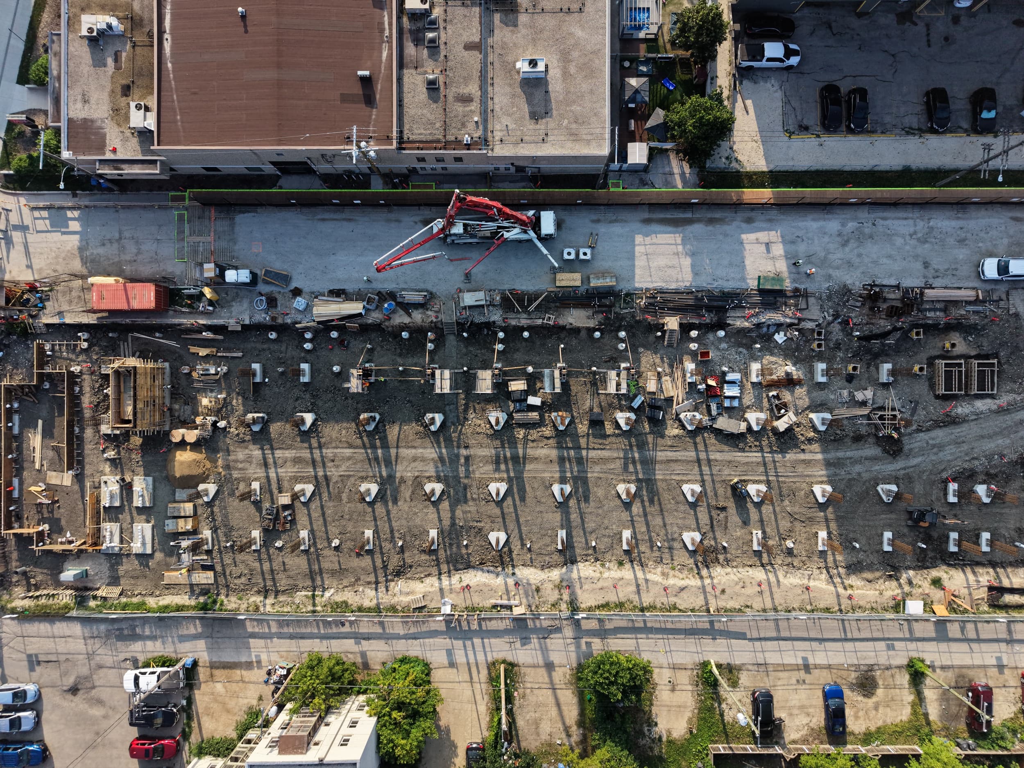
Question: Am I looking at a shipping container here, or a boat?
shipping container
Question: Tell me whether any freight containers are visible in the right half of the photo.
No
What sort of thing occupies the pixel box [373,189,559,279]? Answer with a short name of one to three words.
truck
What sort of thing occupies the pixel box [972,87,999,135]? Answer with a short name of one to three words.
car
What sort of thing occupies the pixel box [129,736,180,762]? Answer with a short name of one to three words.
car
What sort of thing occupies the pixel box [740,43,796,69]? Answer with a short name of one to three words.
truck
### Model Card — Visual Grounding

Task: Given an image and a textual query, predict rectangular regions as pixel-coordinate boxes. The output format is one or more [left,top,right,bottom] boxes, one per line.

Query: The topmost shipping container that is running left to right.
[92,283,168,312]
